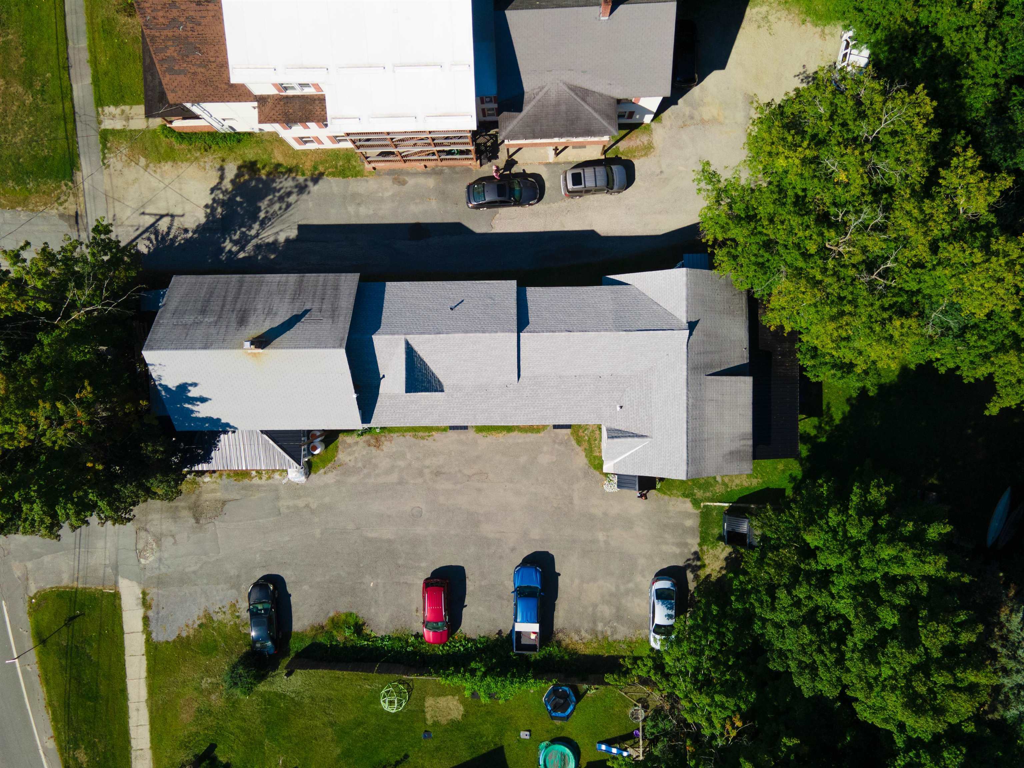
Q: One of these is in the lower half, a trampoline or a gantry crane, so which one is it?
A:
trampoline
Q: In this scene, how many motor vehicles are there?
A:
8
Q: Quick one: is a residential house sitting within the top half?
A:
Yes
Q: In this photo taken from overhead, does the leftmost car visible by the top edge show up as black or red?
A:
black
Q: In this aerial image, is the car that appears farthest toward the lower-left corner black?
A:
Yes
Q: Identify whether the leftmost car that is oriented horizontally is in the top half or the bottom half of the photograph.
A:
top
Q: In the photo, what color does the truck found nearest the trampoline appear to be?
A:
blue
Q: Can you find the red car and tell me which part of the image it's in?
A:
bottom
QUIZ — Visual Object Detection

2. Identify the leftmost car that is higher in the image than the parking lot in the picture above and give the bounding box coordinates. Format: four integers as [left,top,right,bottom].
[465,175,538,211]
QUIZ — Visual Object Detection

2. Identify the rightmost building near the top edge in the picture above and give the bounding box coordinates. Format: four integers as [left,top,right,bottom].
[498,0,679,158]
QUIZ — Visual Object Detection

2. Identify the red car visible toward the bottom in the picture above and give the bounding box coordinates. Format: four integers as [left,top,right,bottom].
[420,577,452,643]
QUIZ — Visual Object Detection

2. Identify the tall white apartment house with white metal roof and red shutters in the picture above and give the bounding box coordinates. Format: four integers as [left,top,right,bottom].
[133,0,500,169]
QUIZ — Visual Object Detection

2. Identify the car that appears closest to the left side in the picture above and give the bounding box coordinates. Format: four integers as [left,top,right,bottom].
[243,579,281,655]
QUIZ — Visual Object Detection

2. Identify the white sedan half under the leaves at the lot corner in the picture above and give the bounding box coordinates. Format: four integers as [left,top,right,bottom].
[647,574,680,647]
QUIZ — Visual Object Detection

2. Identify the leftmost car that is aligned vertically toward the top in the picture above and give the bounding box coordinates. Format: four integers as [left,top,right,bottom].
[673,19,705,90]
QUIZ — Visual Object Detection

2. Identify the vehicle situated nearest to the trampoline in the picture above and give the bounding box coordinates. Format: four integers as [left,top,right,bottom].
[511,563,545,652]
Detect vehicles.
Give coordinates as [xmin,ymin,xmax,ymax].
[243,579,281,655]
[511,563,545,652]
[465,175,538,211]
[647,574,680,647]
[673,19,705,90]
[559,162,627,200]
[420,577,452,643]
[830,24,875,85]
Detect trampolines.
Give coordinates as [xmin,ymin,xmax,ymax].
[542,684,579,725]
